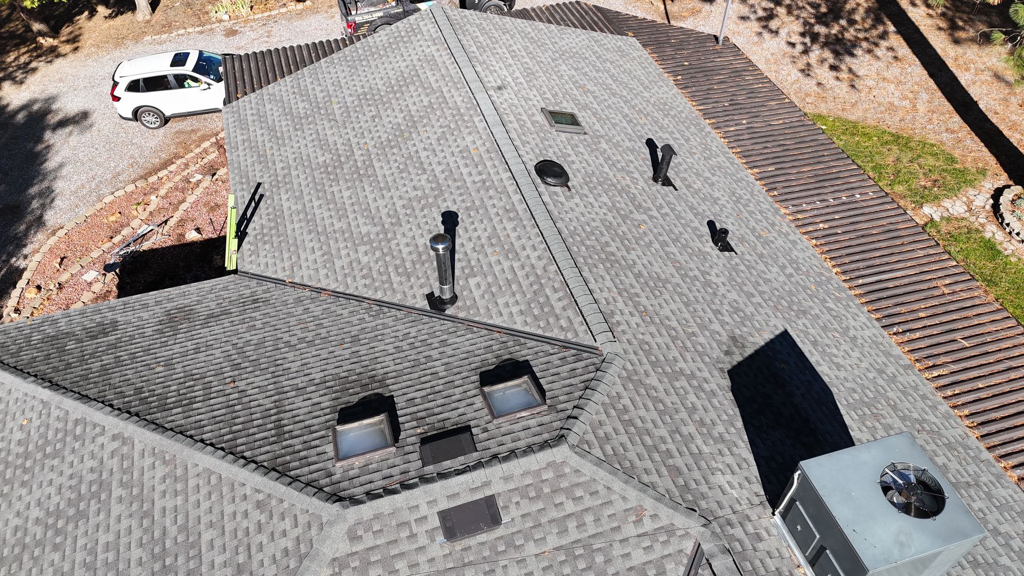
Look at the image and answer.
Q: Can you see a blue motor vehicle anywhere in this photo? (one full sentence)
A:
No, there's no blue motor vehicle here.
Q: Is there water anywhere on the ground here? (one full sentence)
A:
No, the picture contains no water.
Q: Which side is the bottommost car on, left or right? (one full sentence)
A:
The bottommost car appears in the left half of the scene.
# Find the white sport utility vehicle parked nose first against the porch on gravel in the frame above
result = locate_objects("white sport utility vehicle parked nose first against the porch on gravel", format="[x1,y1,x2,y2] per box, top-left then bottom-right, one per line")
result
[109,46,226,132]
